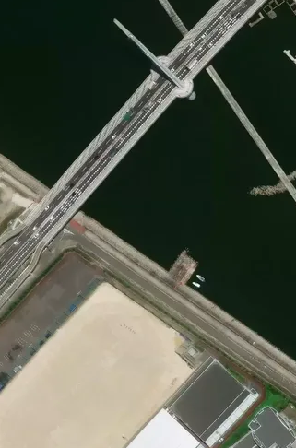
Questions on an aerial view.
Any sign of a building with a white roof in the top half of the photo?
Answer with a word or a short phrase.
No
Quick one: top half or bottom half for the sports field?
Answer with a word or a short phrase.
bottom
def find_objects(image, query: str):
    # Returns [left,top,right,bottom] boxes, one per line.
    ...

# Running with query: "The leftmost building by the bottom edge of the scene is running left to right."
[127,409,208,448]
